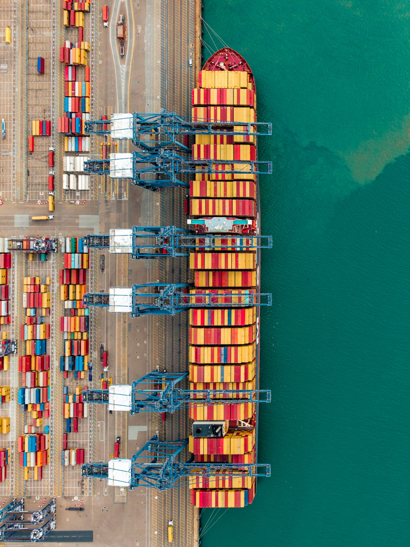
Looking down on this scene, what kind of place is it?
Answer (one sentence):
What you see here is a port.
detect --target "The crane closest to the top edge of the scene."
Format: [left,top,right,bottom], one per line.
[80,108,271,160]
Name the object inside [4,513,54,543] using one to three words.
container crane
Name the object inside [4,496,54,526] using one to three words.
container crane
